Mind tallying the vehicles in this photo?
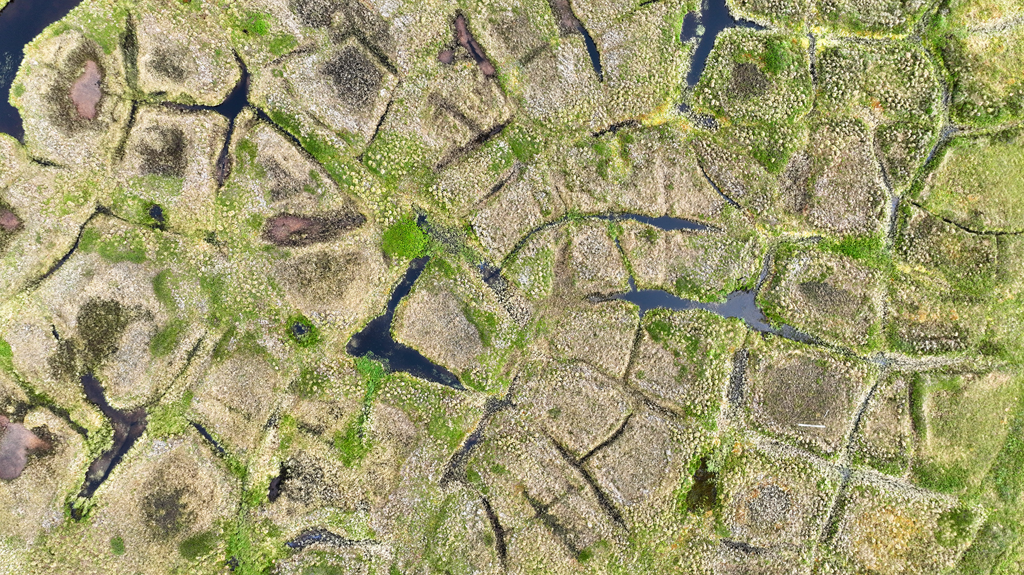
none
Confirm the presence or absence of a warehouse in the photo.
No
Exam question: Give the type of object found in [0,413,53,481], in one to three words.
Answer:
pond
